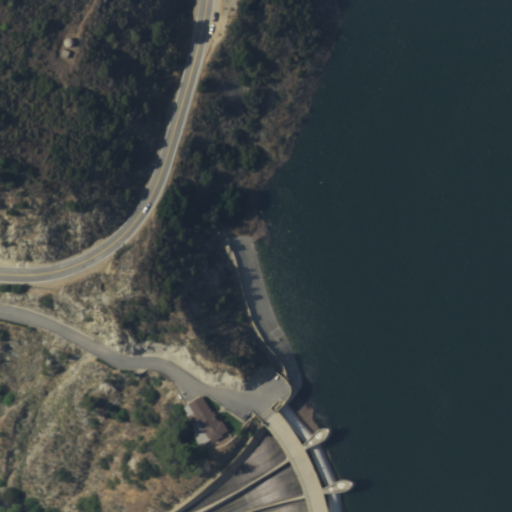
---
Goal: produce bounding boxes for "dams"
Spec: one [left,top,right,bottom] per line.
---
[172,397,350,512]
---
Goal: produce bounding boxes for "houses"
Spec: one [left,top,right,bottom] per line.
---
[186,396,230,442]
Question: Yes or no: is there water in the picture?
Yes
